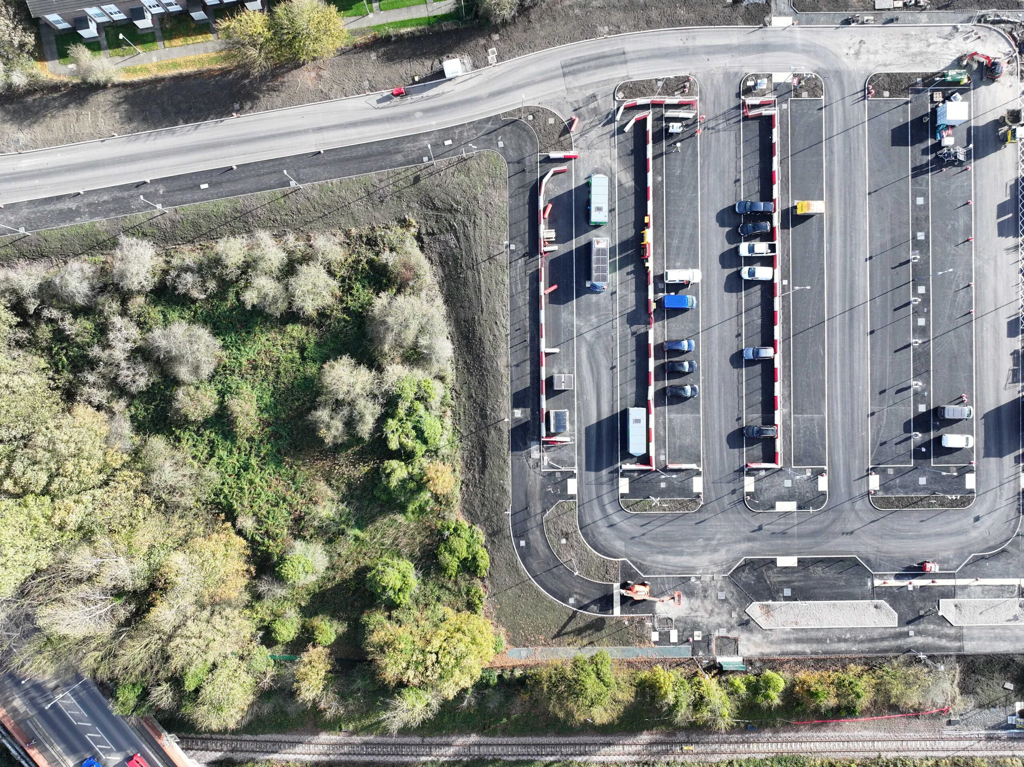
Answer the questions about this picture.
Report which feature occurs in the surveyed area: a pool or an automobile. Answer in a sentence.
Visible in the photo is an automobile.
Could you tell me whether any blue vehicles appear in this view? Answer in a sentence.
Yes, there's a blue vehicle here.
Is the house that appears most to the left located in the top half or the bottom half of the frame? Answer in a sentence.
It is in the top half that the house that appears most to the left appears.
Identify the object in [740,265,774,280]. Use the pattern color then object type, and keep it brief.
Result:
white vehicle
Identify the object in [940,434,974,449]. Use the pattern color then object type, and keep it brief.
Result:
white vehicle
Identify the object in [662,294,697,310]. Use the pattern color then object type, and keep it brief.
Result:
blue vehicle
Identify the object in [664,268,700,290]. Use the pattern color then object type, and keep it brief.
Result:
white car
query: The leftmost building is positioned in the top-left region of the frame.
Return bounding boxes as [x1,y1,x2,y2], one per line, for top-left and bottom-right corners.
[27,0,115,45]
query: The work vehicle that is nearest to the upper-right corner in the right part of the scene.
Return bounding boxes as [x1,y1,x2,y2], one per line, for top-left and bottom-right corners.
[959,51,1012,79]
